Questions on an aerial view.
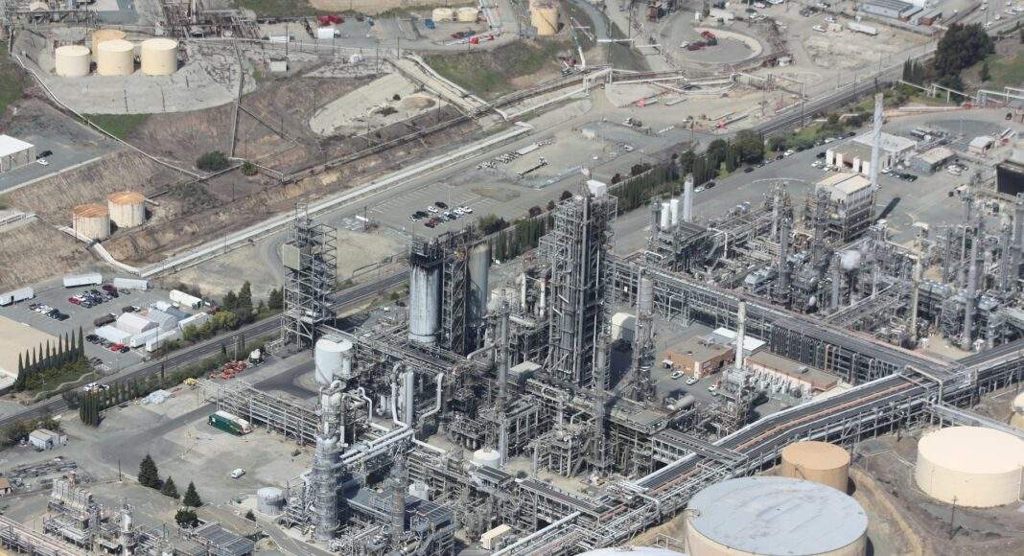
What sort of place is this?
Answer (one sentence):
What you see here is an industrial area.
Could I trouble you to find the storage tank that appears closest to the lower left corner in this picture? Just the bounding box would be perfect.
[253,486,285,517]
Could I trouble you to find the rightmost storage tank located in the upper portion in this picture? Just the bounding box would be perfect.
[528,0,560,38]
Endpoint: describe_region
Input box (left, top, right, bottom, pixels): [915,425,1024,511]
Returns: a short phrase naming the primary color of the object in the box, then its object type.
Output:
white storage tank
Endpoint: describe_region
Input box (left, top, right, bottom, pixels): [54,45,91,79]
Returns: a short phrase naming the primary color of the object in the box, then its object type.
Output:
white storage tank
